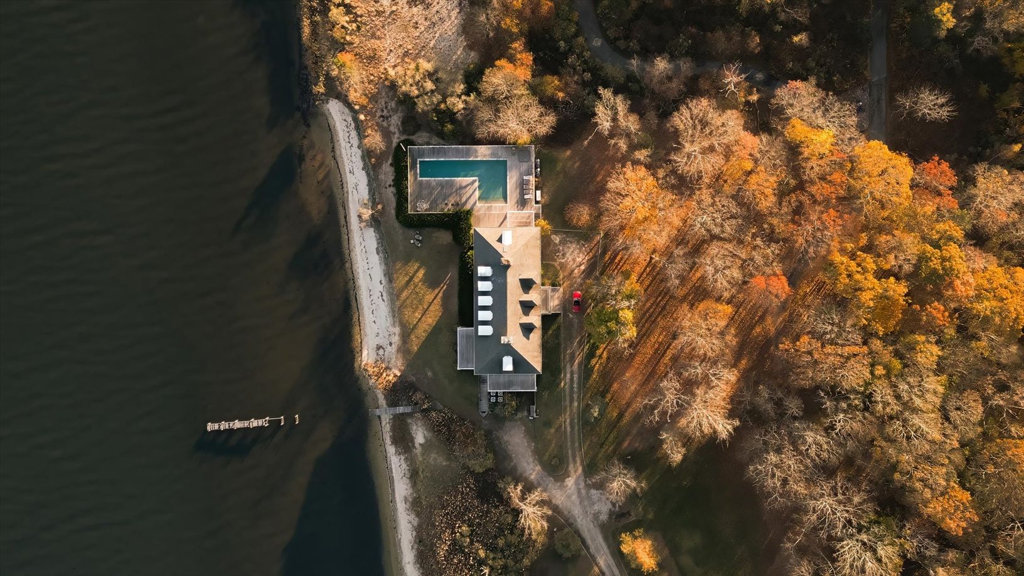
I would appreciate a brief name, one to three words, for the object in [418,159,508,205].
swimming pool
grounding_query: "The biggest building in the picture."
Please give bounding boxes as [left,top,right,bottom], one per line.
[457,226,562,392]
